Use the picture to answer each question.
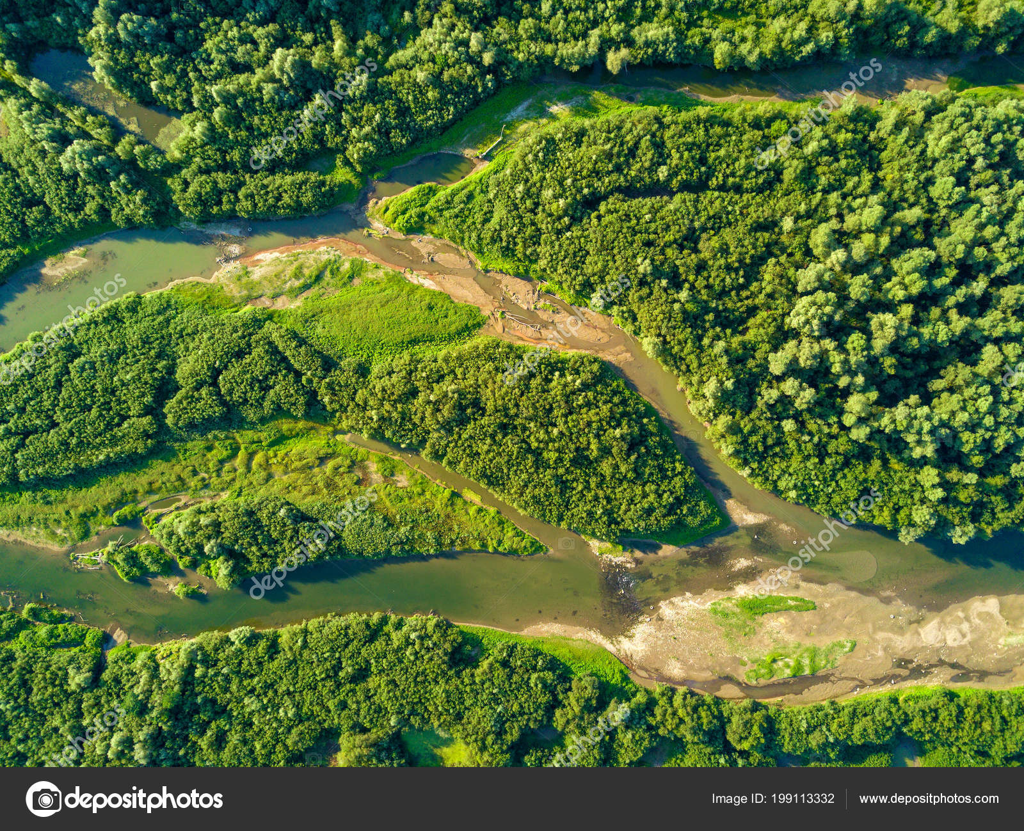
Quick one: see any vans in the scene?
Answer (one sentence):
No, no van is visible in the scene.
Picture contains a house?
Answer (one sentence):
No, this view has no house in it.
